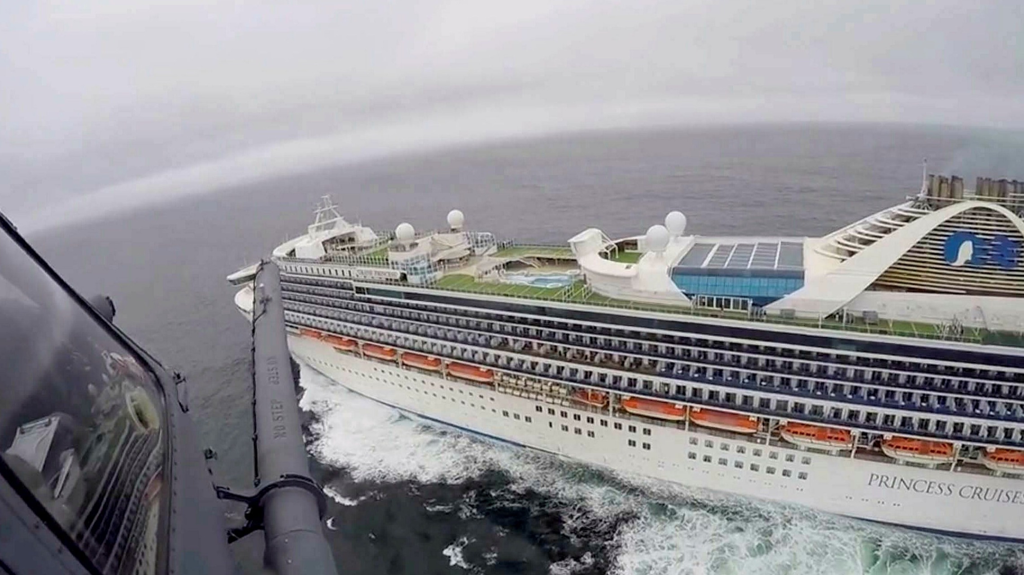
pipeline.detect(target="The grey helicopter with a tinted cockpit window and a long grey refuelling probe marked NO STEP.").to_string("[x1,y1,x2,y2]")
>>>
[0,209,337,575]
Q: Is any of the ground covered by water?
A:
Yes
